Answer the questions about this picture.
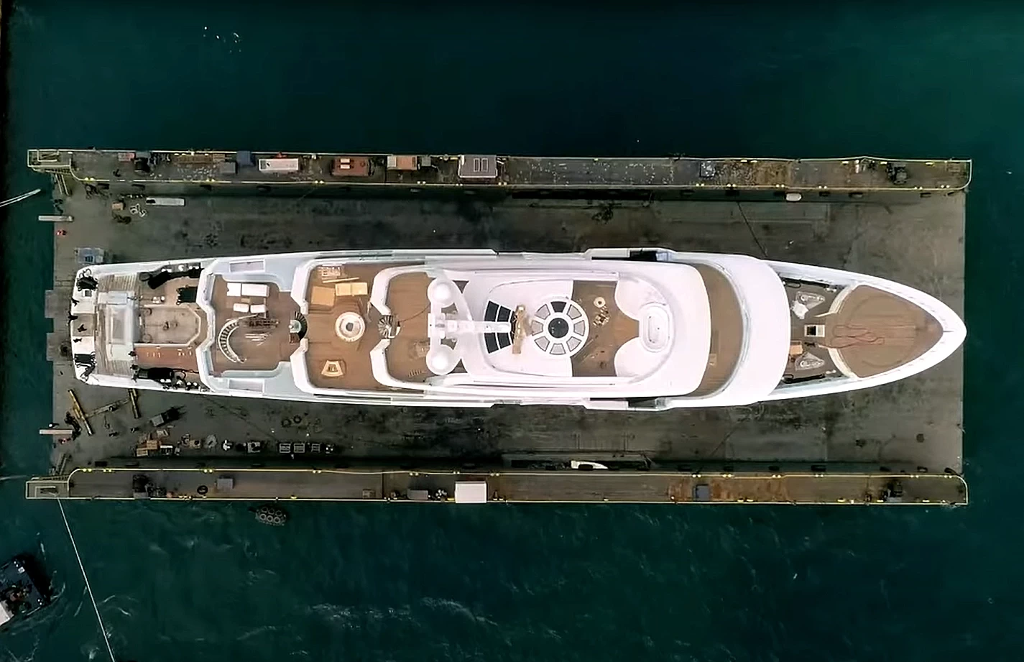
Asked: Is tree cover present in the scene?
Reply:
No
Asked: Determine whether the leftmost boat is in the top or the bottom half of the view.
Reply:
bottom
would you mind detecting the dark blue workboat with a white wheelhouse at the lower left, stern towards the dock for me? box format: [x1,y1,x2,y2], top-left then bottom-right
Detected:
[0,551,56,633]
